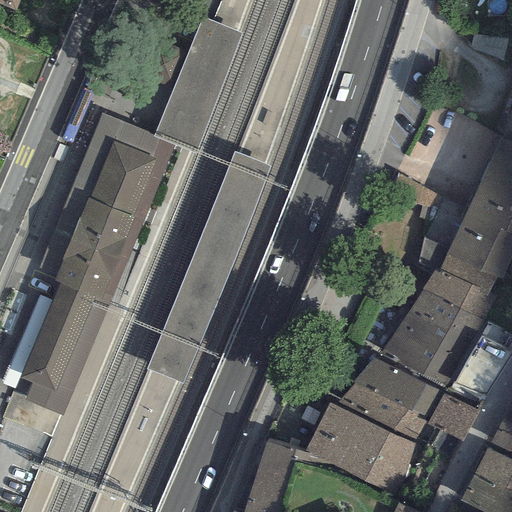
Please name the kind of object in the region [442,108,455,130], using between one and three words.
vehicle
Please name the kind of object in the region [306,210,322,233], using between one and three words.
car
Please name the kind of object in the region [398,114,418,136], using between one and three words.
car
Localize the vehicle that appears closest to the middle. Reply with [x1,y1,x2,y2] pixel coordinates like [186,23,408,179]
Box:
[270,252,284,275]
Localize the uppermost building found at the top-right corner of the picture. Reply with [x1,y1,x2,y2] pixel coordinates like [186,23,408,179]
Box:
[472,34,508,60]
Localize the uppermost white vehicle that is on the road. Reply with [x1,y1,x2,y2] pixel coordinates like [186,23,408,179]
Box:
[334,72,354,102]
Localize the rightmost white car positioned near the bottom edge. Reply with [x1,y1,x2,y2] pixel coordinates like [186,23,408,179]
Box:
[200,466,216,490]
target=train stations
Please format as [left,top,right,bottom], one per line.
[22,112,174,414]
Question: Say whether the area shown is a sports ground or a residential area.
residential area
